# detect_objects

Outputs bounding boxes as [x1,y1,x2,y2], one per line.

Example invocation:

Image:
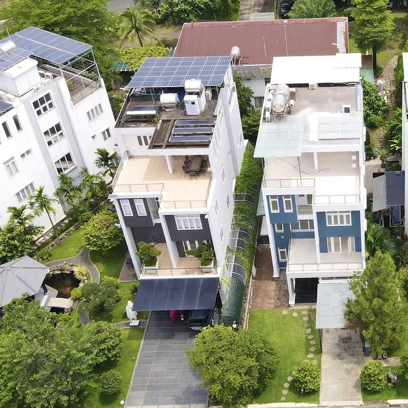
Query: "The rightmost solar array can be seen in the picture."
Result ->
[124,54,228,105]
